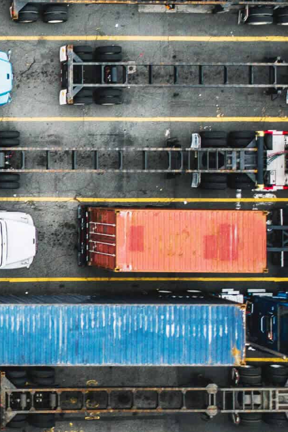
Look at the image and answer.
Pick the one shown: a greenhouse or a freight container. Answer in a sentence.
There is a freight container in the scene.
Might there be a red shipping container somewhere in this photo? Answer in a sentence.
Yes, the frame does contain a red shipping container.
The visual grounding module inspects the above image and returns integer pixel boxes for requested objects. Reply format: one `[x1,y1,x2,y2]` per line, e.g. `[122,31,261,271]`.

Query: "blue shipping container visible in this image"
[0,295,246,366]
